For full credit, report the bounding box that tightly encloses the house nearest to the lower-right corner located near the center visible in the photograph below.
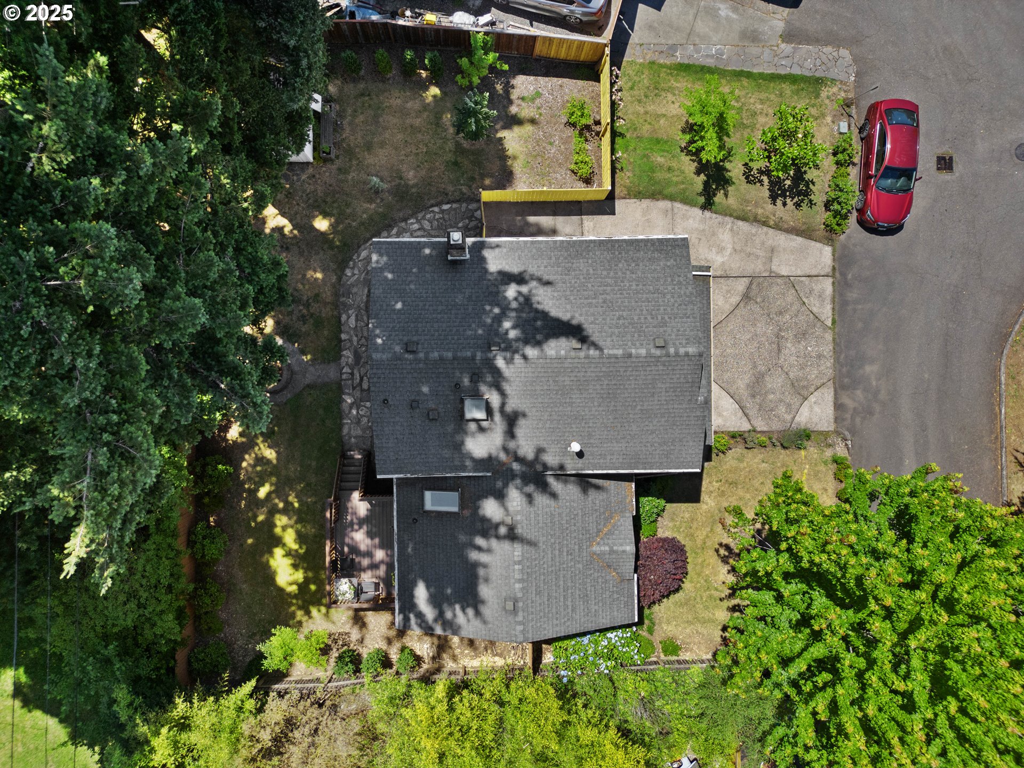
[368,226,715,643]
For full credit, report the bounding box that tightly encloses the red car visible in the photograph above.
[852,95,922,229]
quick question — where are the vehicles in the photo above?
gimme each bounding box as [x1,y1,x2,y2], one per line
[852,95,922,229]
[490,0,606,27]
